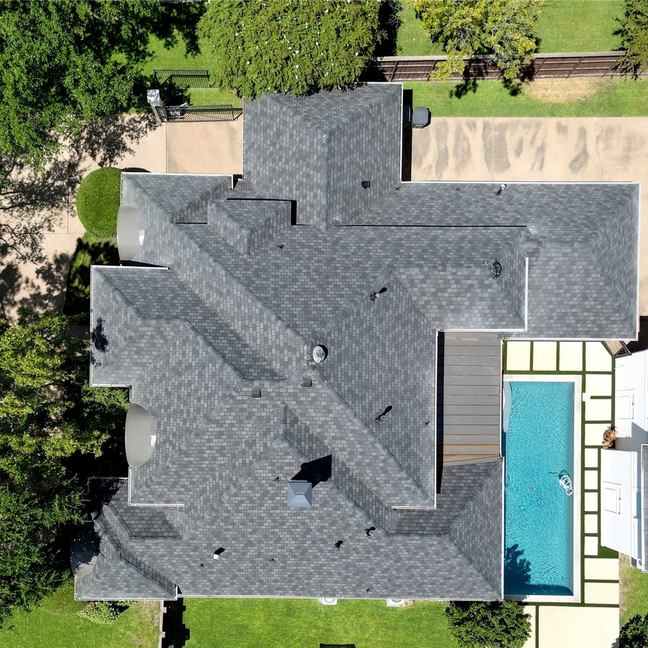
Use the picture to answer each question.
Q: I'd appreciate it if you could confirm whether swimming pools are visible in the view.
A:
Yes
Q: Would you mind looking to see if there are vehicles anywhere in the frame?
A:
No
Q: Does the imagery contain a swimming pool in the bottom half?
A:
Yes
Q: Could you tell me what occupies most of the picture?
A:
buildings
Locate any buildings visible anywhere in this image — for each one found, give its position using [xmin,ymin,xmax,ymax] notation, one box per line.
[67,82,641,601]
[603,352,648,575]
